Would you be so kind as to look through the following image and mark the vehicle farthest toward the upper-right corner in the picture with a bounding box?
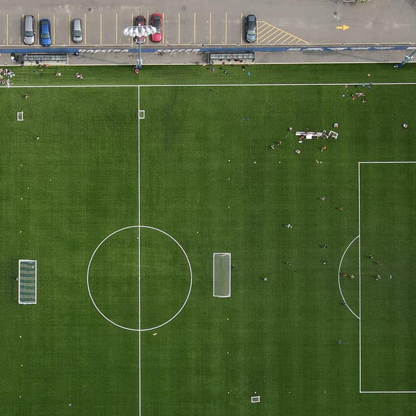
[244,16,256,43]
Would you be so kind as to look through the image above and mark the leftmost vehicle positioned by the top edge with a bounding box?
[22,16,36,46]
